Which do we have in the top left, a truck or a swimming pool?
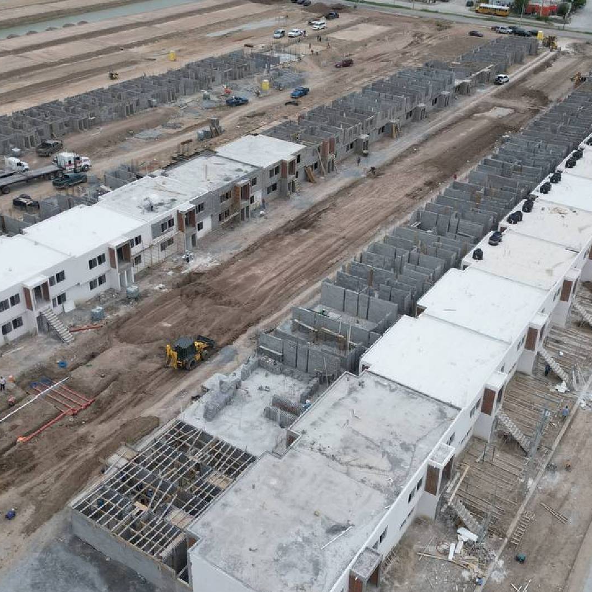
truck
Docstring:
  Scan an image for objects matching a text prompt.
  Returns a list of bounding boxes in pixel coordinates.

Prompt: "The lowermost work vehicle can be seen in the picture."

[169,330,226,368]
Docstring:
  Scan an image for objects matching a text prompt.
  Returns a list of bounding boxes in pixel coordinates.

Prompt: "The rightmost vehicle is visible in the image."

[566,73,588,89]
